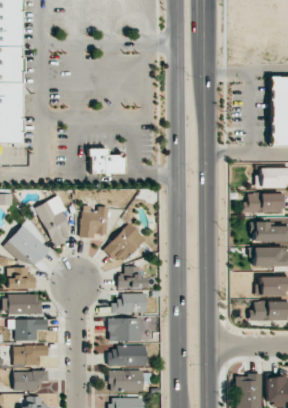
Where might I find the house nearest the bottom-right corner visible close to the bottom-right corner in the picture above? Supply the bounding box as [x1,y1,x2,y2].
[267,376,288,408]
